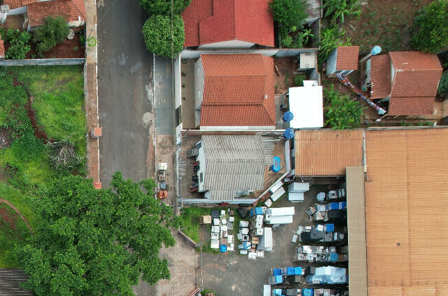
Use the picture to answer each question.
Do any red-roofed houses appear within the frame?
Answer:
Yes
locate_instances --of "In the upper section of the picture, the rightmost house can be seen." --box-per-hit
[361,52,444,120]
